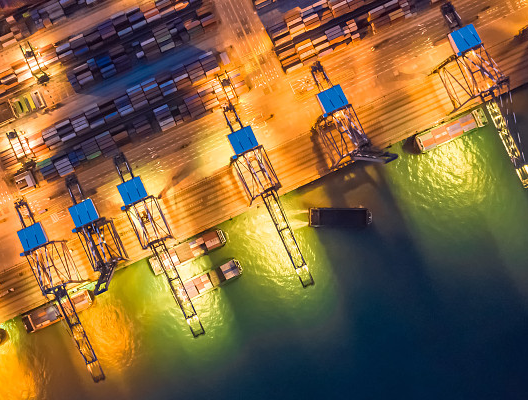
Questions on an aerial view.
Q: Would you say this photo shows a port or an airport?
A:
port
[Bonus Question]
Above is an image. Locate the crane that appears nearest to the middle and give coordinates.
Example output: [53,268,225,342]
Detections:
[219,101,315,290]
